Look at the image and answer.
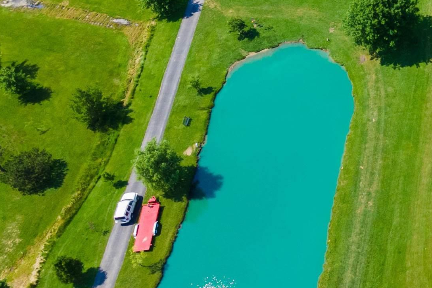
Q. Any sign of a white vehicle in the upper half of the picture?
No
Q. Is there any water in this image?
Yes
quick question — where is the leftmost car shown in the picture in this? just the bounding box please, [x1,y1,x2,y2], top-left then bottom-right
[111,188,140,232]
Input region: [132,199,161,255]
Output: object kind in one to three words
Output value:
trailer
